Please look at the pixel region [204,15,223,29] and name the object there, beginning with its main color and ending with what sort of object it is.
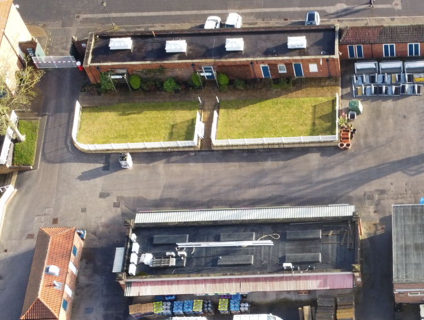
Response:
white car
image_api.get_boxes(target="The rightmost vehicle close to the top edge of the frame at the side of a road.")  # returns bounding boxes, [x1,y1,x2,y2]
[303,8,320,26]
